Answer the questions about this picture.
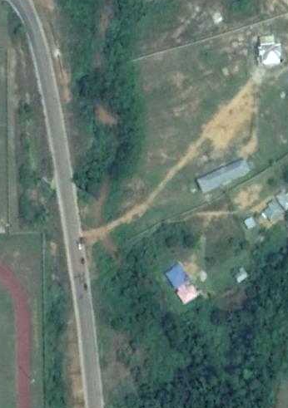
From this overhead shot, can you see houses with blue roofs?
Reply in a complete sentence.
Yes, looking at the shot, I can spot a house with a blue roof.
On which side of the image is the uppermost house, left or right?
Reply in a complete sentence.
The uppermost house appears in the right half of the scene.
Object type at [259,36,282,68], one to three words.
house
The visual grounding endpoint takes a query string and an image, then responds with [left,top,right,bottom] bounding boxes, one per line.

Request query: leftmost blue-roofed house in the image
[167,263,190,289]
